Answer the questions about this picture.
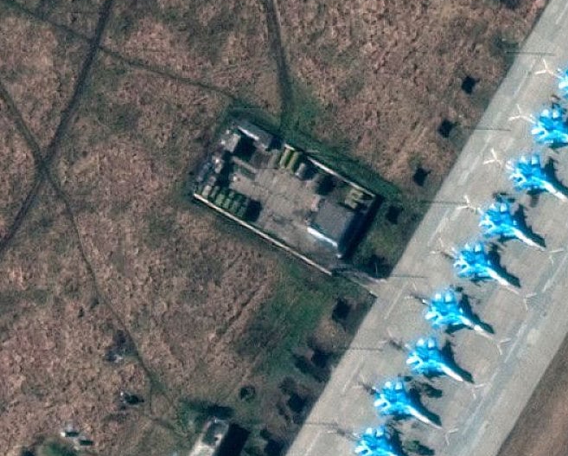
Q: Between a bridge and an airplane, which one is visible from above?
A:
airplane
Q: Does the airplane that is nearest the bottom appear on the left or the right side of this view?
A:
right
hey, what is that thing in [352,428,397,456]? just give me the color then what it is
blue airplane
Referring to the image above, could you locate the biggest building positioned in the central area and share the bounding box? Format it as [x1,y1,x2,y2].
[307,200,354,246]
